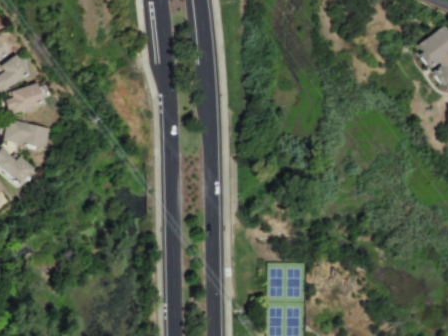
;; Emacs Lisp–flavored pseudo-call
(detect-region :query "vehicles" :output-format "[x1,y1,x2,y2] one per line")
[215,180,220,194]
[172,124,177,136]
[206,224,212,234]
